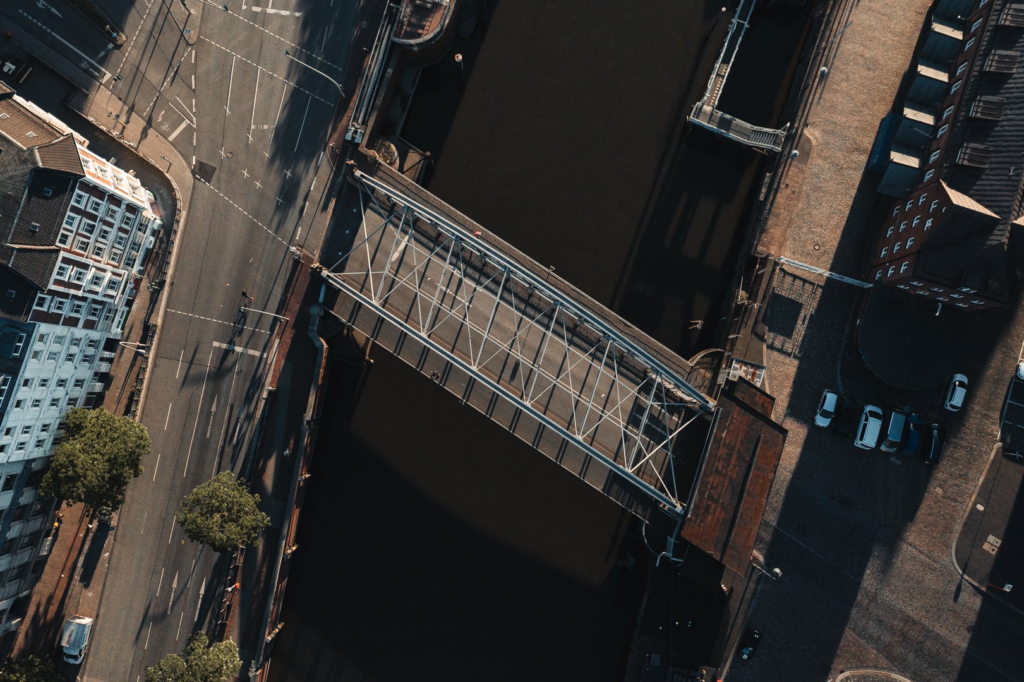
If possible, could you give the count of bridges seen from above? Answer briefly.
1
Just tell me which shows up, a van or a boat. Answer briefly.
van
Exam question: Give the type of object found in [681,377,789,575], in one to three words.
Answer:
building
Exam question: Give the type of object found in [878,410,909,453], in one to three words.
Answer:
van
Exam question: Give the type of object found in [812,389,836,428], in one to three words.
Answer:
car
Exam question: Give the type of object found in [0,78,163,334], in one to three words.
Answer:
building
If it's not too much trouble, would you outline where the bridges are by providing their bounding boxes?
[313,158,723,528]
